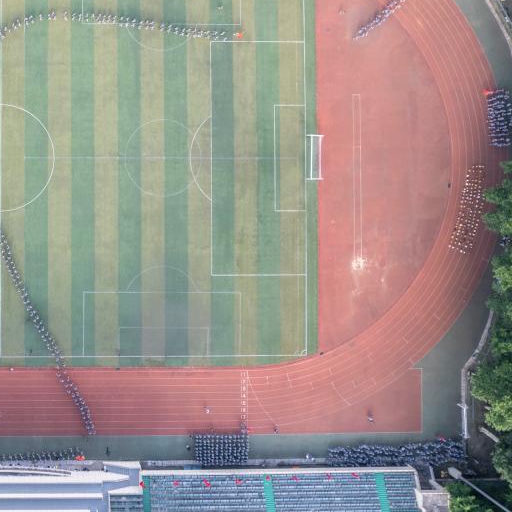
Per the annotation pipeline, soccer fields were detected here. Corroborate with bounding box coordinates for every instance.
[0,0,319,367]
[24,0,301,356]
